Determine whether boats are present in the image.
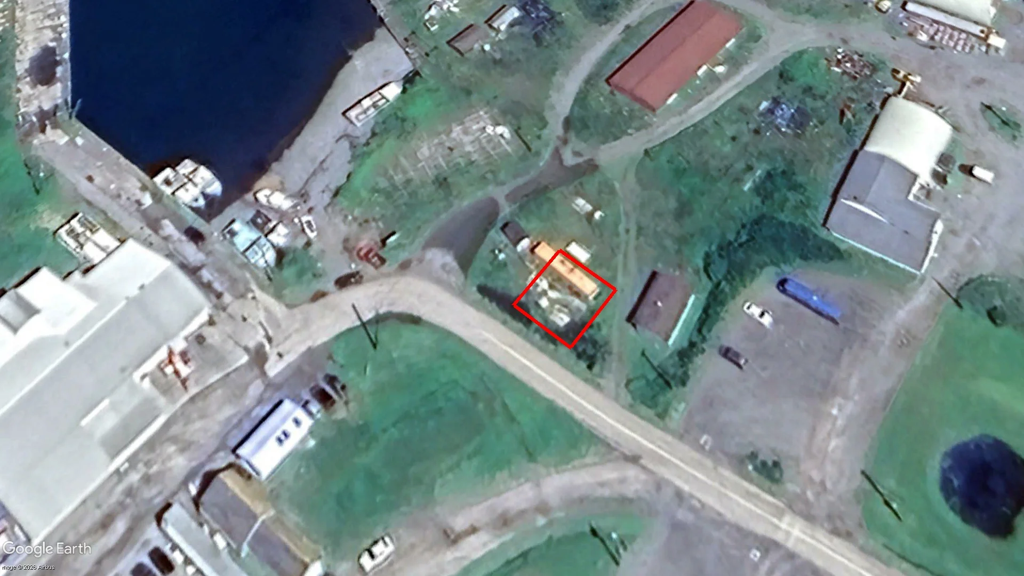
Yes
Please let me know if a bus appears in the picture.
Yes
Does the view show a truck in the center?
Yes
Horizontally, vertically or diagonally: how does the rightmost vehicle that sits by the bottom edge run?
diagonally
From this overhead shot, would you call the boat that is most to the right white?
Yes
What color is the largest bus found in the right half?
blue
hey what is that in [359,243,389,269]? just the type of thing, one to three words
work vehicle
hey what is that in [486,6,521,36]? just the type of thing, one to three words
shed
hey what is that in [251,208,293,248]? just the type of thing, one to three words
boat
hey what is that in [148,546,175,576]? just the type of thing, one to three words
car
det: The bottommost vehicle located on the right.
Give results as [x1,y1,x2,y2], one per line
[718,345,752,372]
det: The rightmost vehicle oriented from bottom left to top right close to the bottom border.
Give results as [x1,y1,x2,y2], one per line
[357,537,397,570]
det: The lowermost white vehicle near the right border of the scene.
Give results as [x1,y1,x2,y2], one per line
[969,160,999,189]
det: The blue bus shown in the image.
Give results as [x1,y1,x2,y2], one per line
[776,275,844,328]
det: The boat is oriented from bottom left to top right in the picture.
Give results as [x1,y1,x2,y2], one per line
[347,81,408,127]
